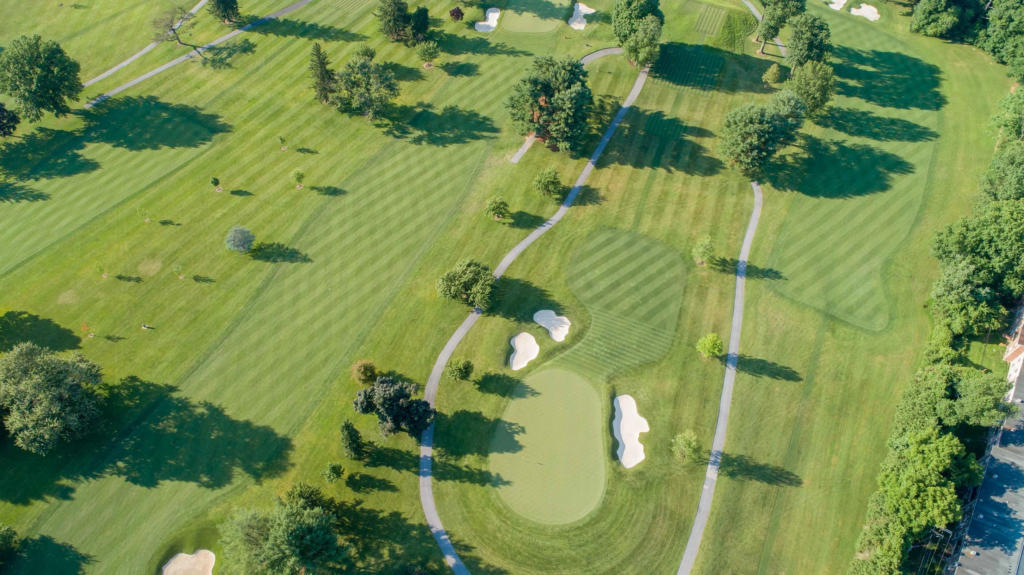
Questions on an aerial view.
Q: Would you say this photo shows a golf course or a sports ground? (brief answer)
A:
golf course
